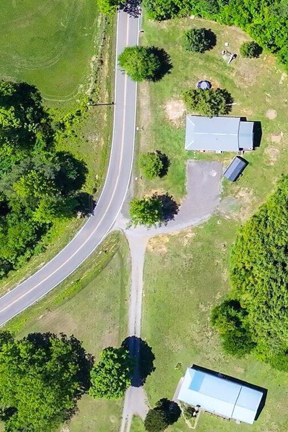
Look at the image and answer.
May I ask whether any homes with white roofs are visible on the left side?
No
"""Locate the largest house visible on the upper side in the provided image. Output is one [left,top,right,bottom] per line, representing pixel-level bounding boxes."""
[185,115,253,153]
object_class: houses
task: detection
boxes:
[185,115,253,153]
[178,367,263,424]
